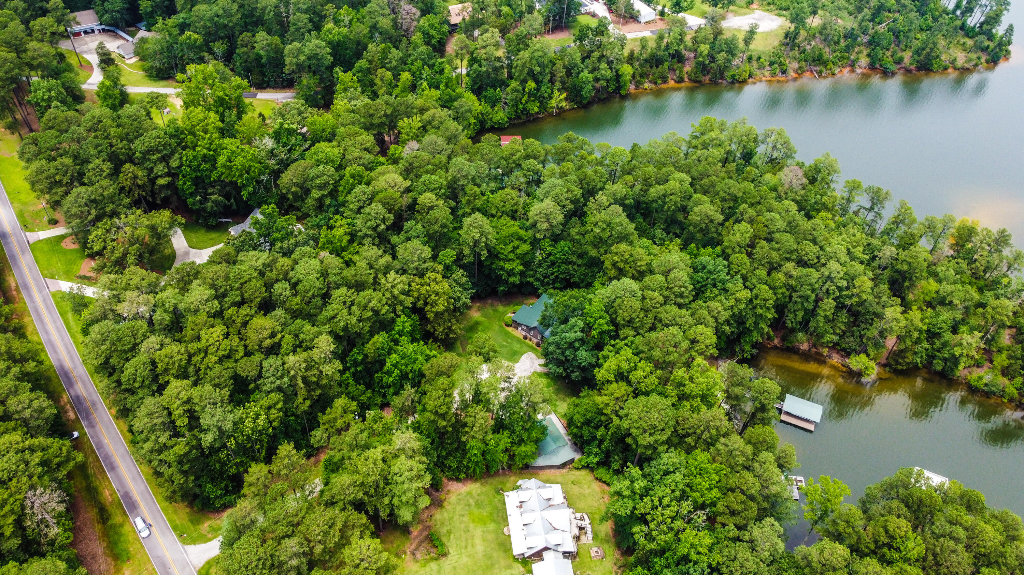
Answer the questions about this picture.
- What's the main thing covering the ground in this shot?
trees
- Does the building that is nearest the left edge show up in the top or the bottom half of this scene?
top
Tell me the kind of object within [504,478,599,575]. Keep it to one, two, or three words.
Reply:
house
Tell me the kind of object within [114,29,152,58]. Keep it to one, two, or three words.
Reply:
house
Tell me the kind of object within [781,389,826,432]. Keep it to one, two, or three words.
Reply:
building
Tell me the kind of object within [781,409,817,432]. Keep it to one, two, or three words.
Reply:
pier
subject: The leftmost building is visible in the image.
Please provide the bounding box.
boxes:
[63,14,107,38]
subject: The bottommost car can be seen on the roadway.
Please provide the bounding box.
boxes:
[132,520,148,540]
